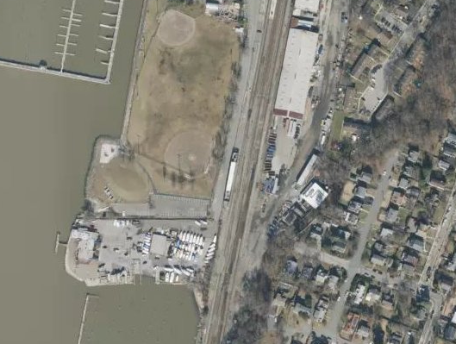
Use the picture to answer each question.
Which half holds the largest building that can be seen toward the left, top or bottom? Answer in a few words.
bottom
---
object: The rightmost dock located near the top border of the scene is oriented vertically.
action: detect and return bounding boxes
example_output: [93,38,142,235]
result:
[96,0,122,80]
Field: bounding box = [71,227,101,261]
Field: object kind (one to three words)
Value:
building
